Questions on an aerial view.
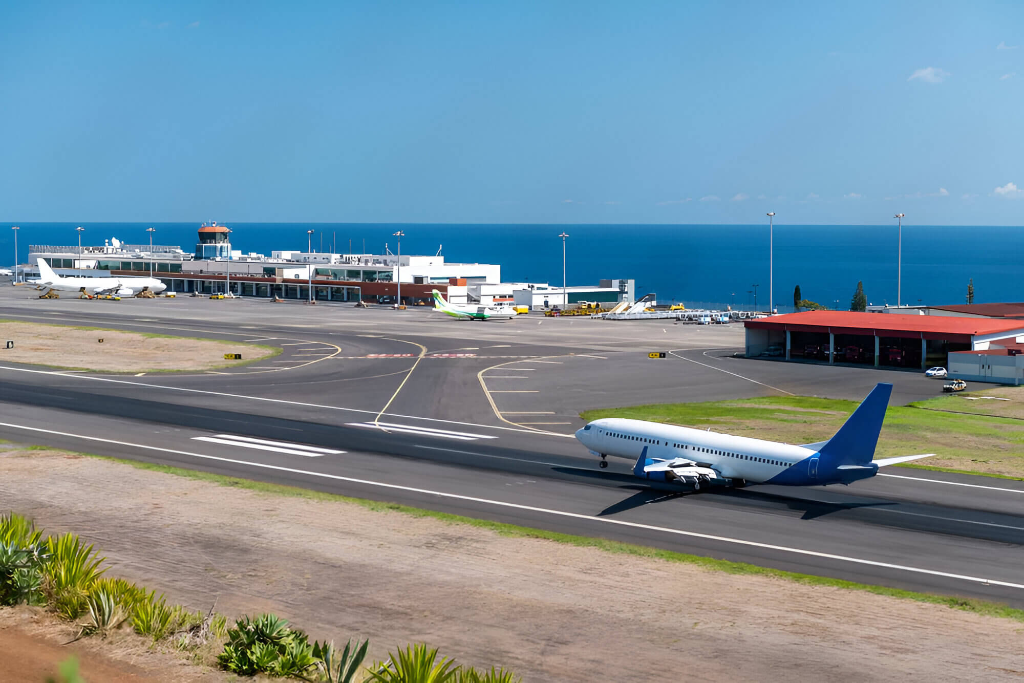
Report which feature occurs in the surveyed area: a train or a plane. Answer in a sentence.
I can see a plane in this picture.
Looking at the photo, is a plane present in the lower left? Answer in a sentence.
No, I see no plane in the lower left.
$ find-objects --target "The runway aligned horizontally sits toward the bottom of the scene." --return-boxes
[0,361,1024,611]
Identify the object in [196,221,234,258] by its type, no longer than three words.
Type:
building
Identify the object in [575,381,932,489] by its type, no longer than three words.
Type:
airplane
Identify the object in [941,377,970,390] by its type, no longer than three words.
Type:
vehicle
